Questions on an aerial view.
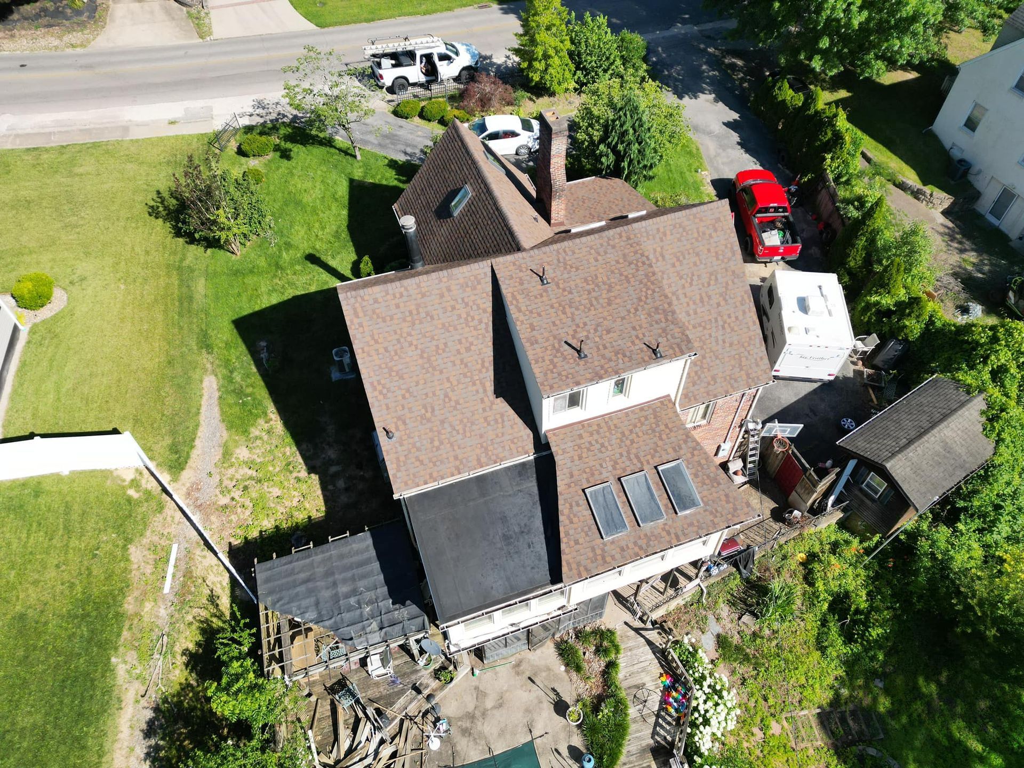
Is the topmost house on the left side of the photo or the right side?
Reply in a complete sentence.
The topmost house appears in the right half of the scene.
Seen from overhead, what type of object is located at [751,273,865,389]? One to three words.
vehicle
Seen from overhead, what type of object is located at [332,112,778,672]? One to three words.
house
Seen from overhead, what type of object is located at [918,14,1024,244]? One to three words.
house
